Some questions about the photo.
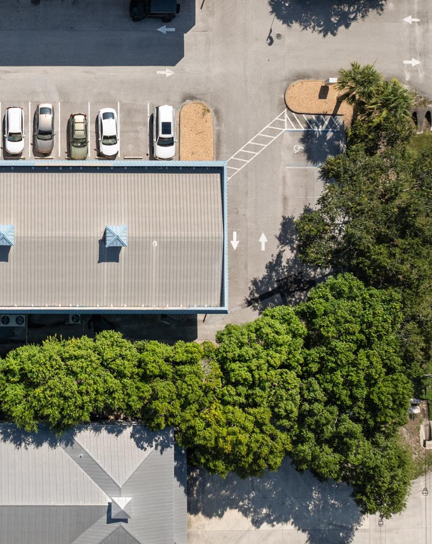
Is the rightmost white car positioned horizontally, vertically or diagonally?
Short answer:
vertically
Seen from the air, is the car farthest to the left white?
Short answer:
Yes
